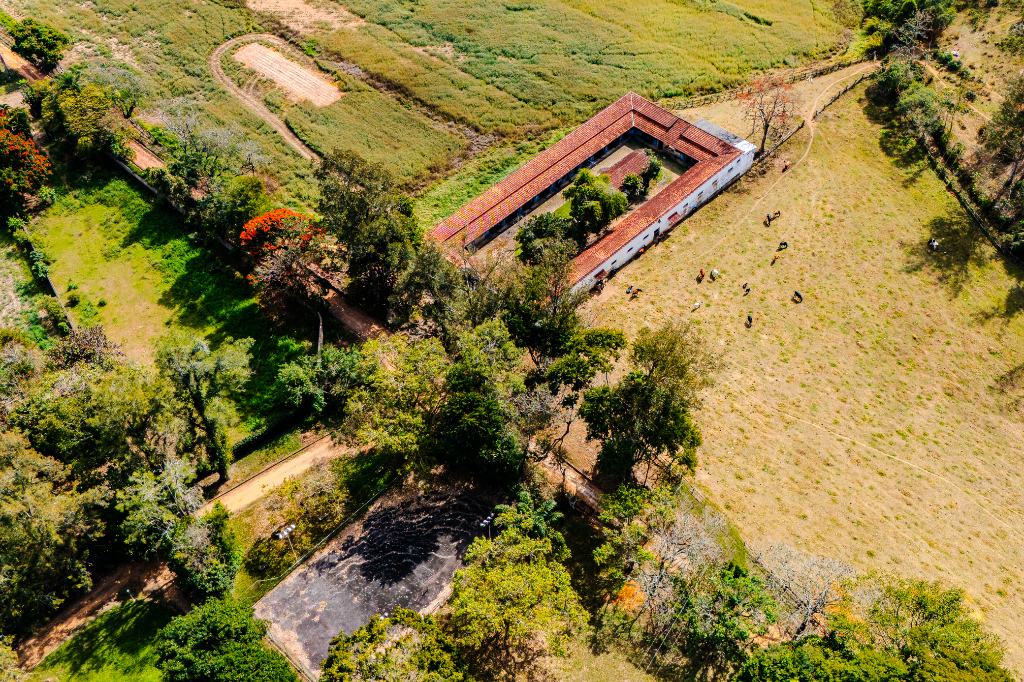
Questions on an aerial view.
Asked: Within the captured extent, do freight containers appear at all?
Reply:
No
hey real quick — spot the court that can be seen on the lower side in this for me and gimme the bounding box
[251,443,526,682]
